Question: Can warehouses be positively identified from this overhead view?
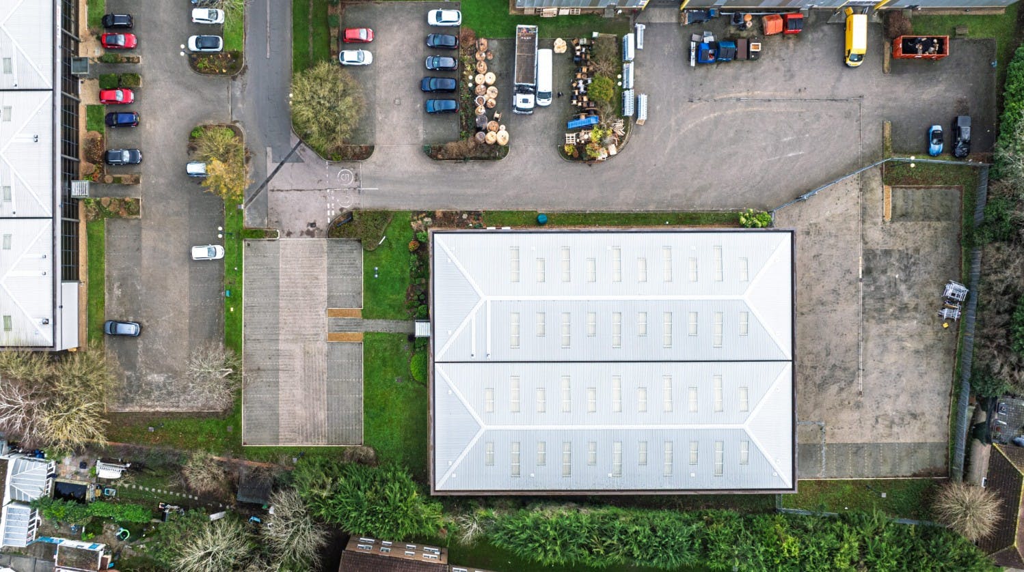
Yes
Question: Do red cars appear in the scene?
Yes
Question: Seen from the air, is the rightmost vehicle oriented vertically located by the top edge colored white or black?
white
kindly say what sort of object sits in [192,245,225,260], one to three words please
car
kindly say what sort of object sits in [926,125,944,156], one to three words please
car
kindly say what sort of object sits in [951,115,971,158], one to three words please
vehicle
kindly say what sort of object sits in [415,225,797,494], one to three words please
warehouse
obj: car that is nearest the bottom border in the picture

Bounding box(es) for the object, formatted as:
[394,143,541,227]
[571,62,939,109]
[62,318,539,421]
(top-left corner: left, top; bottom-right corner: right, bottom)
[106,320,143,336]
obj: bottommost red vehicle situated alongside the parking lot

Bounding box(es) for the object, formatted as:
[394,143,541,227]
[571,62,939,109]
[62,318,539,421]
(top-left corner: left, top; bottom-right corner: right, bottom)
[100,87,136,104]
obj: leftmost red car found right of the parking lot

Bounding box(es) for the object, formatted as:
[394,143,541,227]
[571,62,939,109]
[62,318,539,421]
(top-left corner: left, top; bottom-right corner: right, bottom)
[343,26,374,43]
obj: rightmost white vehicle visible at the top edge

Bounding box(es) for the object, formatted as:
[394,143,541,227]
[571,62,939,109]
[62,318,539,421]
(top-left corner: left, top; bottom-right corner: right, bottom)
[845,3,868,65]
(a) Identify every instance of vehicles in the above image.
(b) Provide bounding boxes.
[845,3,868,65]
[102,12,134,29]
[514,24,536,115]
[189,34,224,51]
[339,49,373,65]
[426,55,457,71]
[191,9,225,24]
[100,87,136,104]
[426,98,458,114]
[421,76,456,92]
[951,115,971,158]
[535,47,553,105]
[192,245,225,260]
[427,33,458,49]
[107,111,141,127]
[343,26,374,43]
[101,32,138,49]
[105,148,143,165]
[429,8,461,25]
[926,125,944,156]
[188,161,213,176]
[106,320,143,336]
